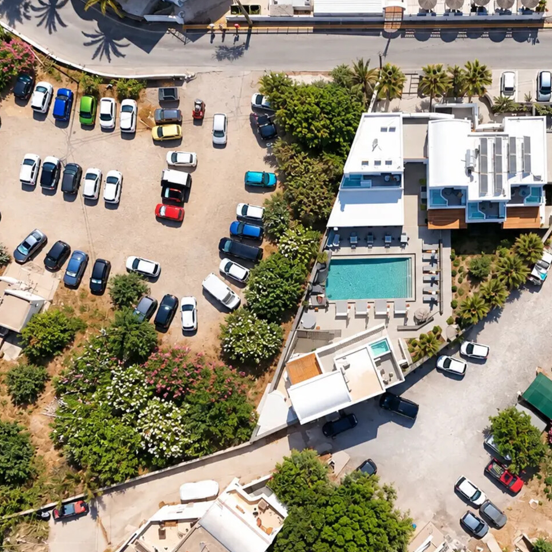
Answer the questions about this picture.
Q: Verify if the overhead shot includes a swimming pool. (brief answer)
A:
Yes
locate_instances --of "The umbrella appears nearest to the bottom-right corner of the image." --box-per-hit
[443,327,457,341]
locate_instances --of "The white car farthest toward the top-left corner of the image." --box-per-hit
[30,81,54,113]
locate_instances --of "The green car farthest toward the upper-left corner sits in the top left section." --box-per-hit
[78,95,97,126]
